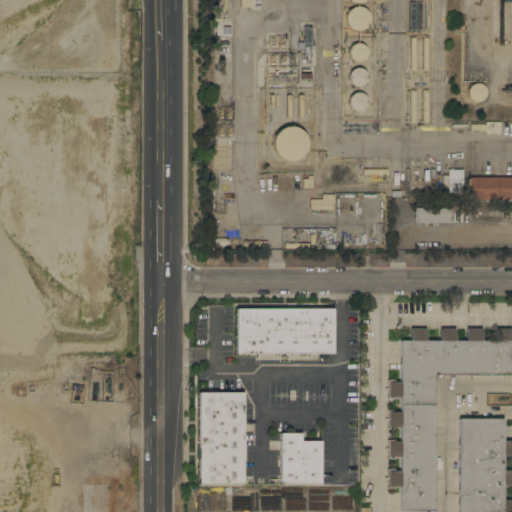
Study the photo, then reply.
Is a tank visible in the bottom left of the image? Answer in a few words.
No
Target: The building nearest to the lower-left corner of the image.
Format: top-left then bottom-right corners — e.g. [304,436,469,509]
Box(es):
[199,393,246,484]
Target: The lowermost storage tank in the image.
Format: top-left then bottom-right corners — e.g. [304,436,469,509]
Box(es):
[274,127,310,162]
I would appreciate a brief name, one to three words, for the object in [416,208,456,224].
building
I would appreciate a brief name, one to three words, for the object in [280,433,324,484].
building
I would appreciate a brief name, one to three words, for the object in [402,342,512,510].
warehouse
